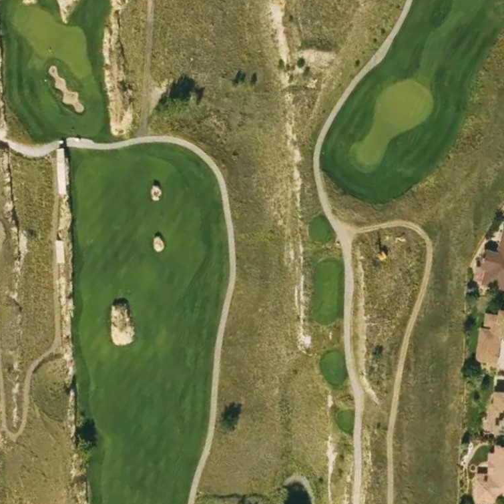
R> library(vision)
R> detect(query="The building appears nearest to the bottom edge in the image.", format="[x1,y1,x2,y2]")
[473,448,504,504]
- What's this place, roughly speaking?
golf course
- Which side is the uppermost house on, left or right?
right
